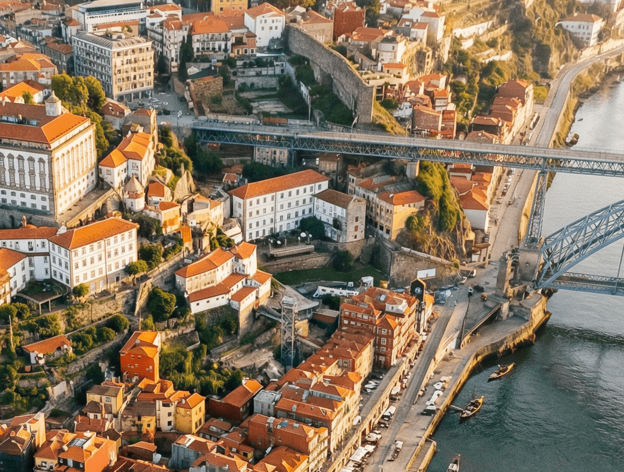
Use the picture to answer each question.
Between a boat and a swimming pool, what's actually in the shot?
boat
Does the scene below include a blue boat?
No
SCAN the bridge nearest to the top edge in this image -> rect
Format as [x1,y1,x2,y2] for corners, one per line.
[191,117,624,297]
